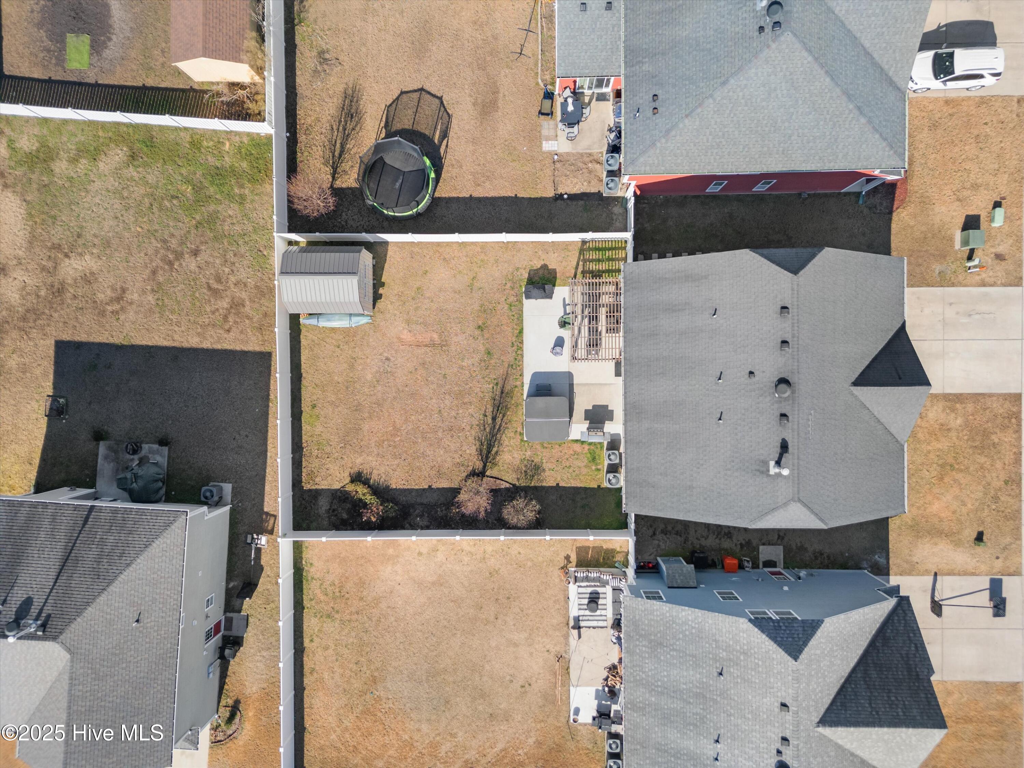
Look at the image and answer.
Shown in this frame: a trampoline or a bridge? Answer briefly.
trampoline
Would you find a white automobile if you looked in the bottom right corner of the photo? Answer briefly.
No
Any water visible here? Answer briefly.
No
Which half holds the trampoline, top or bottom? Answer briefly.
top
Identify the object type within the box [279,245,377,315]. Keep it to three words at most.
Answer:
shed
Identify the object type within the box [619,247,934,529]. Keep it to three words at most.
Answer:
house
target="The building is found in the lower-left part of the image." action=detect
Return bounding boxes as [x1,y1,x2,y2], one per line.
[0,470,231,768]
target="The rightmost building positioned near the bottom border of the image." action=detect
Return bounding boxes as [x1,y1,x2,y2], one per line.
[619,557,949,768]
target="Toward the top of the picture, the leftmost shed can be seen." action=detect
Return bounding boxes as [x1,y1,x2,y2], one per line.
[171,0,261,82]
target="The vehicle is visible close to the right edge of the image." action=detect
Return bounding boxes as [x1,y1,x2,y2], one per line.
[909,42,1006,91]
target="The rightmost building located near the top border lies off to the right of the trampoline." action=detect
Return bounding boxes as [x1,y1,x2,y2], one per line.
[619,0,934,207]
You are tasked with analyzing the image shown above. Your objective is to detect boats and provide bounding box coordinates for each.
[300,314,372,328]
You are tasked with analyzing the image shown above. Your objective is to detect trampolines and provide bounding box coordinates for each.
[356,135,436,220]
